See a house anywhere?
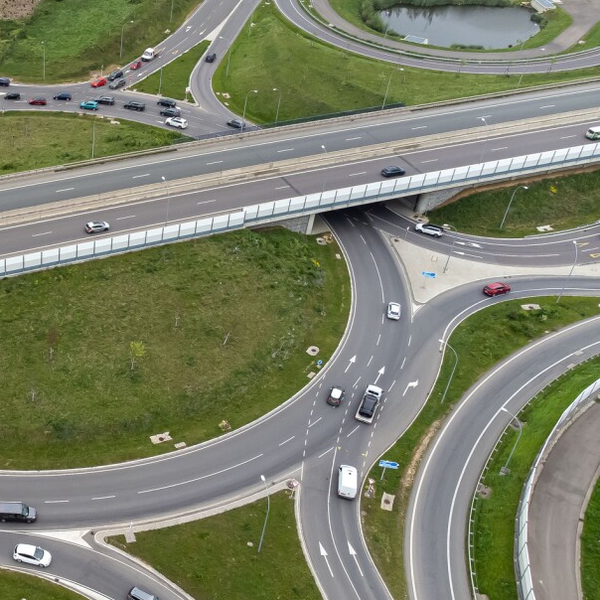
No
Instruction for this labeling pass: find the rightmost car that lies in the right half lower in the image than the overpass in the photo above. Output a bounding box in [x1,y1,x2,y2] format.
[481,283,511,297]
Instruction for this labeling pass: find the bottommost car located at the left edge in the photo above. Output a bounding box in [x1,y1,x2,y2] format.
[12,545,52,568]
